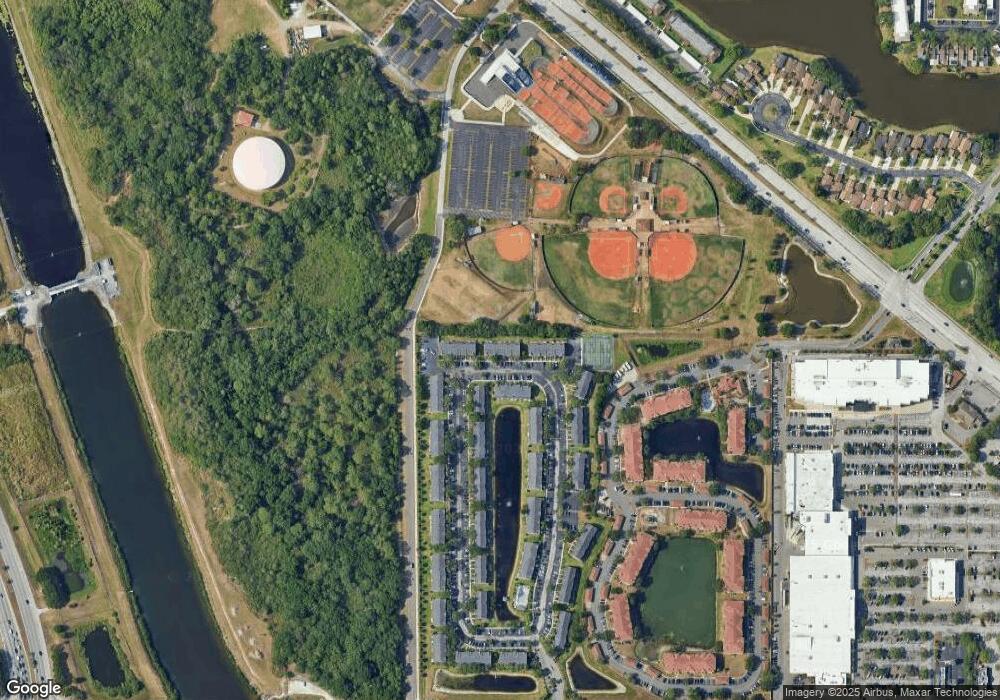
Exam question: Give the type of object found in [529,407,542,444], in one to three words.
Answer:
house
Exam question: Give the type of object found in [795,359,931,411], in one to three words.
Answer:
building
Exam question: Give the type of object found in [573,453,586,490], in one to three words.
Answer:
house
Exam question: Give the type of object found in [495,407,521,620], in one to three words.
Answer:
pond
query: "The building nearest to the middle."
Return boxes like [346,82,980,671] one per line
[484,343,521,357]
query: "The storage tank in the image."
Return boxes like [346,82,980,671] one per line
[231,137,285,189]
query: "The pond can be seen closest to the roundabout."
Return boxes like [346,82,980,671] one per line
[781,243,856,325]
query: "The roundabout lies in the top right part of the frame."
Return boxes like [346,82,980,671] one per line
[752,93,791,132]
